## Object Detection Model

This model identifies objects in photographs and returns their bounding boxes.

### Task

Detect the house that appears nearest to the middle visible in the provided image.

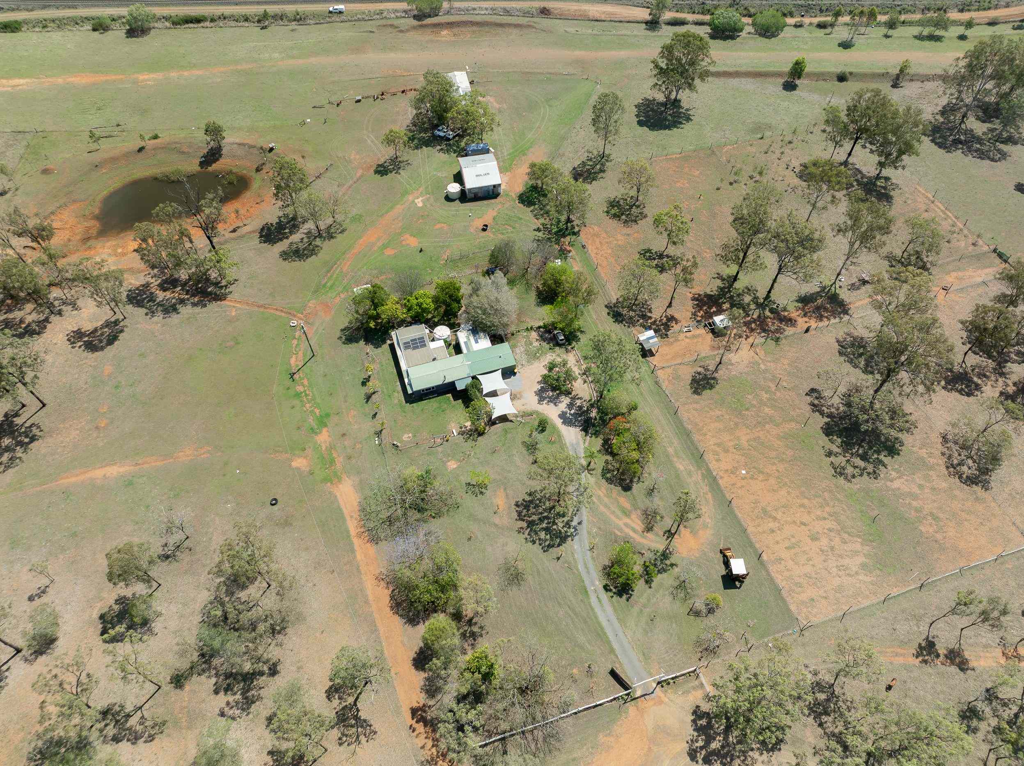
[392,324,516,398]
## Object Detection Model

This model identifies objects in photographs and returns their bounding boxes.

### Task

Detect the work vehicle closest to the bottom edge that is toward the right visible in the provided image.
[723,551,748,591]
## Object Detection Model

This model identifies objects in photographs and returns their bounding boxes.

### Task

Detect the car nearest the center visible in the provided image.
[552,330,568,347]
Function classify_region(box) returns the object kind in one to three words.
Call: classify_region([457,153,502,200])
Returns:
shed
